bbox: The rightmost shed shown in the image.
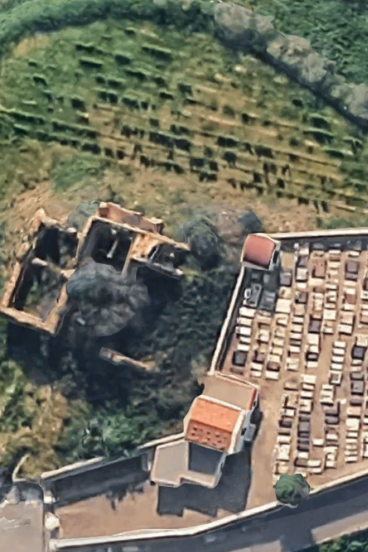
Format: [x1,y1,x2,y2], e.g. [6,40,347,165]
[241,233,284,270]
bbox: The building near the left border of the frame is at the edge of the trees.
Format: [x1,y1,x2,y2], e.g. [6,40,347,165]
[0,209,100,335]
